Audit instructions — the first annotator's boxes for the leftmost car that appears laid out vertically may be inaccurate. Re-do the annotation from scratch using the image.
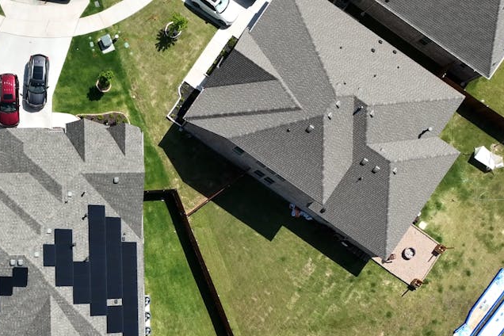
[0,72,23,129]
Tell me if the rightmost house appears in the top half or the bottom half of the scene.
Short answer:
top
